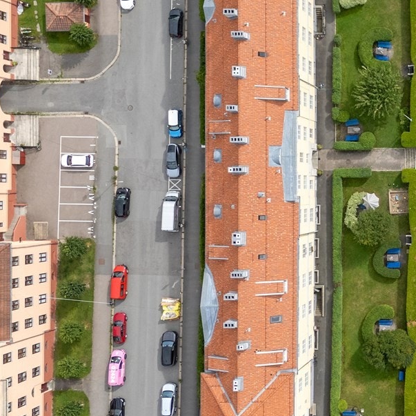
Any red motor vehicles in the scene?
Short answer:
Yes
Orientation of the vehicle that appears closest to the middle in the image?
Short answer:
up and down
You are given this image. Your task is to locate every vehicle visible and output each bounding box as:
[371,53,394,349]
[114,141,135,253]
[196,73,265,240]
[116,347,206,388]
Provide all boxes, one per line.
[161,383,178,416]
[63,154,94,169]
[168,9,184,39]
[110,265,128,300]
[114,189,131,217]
[165,144,182,177]
[163,331,179,365]
[112,313,129,343]
[108,349,126,386]
[122,0,136,9]
[162,192,182,232]
[168,110,183,137]
[109,398,127,416]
